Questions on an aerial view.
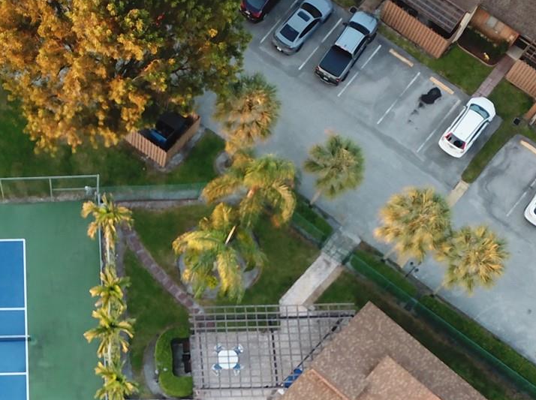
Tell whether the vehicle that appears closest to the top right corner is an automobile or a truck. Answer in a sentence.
From above, the vehicle that appears closest to the top right corner can be identified as an automobile.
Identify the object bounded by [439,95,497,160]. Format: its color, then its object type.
white car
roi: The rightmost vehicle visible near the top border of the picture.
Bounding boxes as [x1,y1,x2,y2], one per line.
[312,9,382,84]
